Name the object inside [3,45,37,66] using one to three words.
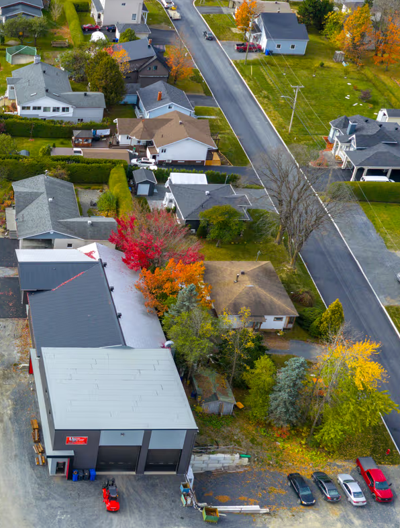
tent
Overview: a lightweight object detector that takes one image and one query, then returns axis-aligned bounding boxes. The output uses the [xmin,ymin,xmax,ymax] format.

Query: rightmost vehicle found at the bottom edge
[356,455,399,502]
